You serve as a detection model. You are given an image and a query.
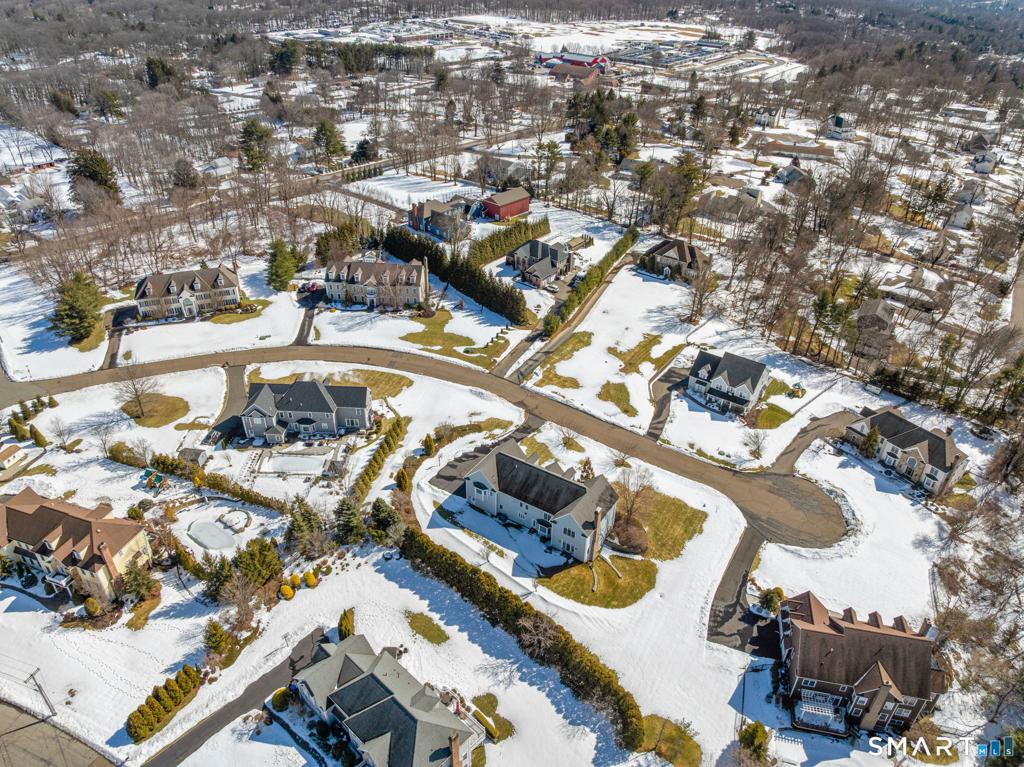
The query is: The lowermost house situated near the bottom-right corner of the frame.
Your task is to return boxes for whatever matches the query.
[773,587,950,735]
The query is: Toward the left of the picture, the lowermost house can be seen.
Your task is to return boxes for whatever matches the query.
[292,627,490,767]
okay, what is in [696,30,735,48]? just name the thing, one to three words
building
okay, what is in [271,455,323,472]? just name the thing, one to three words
swimming pool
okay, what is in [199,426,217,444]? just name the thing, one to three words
car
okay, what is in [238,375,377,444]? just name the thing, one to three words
house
